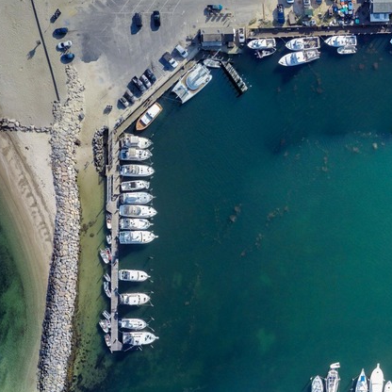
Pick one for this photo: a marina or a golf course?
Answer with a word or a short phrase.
marina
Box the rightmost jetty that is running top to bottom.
[106,131,124,353]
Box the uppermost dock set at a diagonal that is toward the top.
[218,60,251,98]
